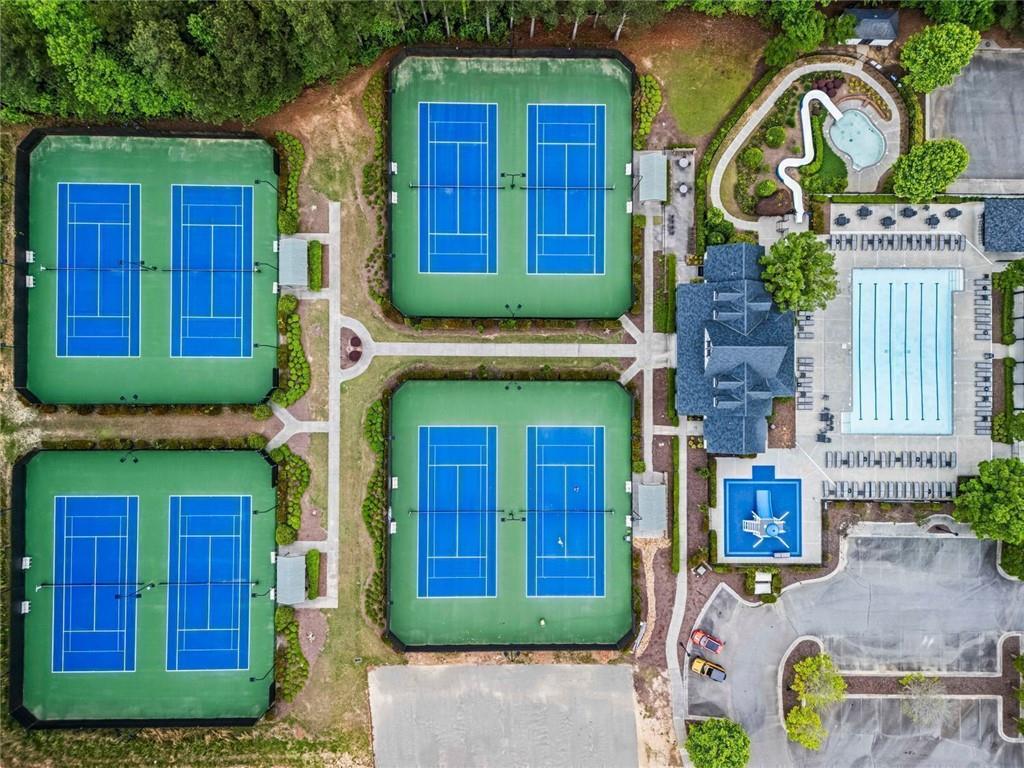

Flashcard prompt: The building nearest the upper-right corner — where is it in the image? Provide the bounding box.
[832,0,899,47]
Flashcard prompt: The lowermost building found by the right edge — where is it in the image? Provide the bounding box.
[973,197,1024,251]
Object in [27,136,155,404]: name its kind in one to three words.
tennis court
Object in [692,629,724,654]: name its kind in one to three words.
car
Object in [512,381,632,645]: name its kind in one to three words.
tennis court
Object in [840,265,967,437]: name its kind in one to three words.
swimming pool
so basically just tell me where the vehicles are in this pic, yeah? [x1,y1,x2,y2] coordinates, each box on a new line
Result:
[692,629,724,654]
[692,657,727,685]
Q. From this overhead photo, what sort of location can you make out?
sports ground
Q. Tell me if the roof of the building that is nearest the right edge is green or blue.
blue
